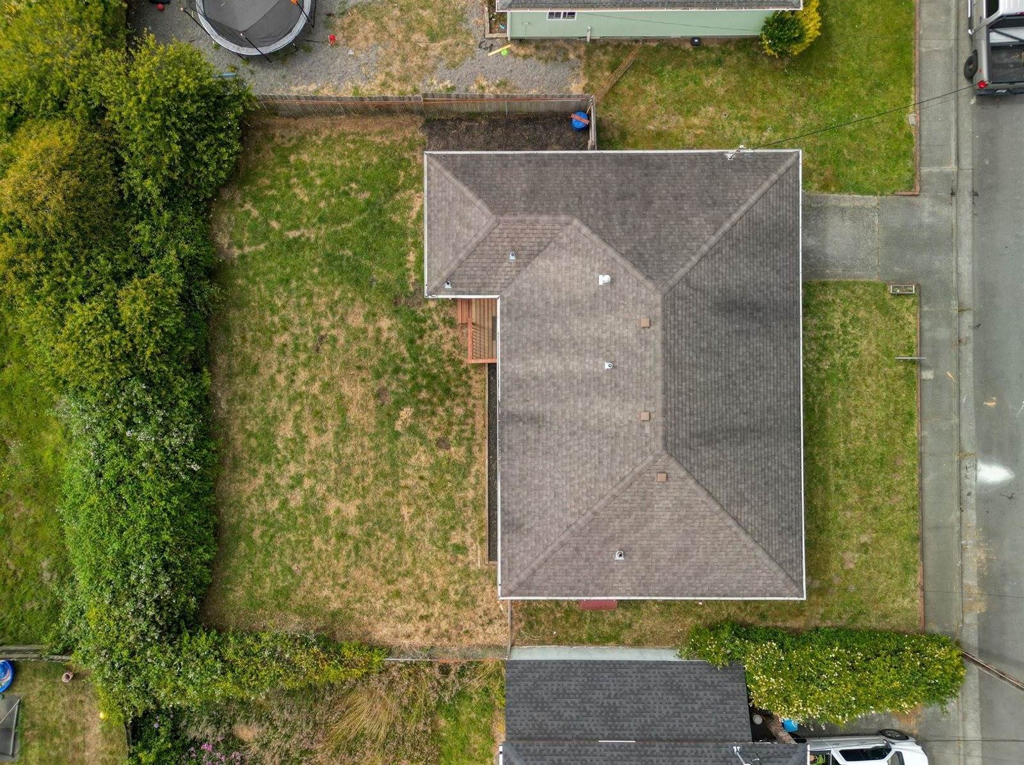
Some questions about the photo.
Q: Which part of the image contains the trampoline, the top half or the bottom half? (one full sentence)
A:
It is in the top half that the trampoline appears.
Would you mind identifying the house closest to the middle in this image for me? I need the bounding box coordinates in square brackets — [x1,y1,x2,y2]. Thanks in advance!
[423,137,806,600]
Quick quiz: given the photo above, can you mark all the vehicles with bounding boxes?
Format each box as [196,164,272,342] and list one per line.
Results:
[804,728,924,765]
[955,0,1024,100]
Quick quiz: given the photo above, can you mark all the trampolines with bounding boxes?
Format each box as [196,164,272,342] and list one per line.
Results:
[179,0,319,66]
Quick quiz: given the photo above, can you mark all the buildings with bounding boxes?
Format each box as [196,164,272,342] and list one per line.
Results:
[497,649,810,765]
[423,137,806,600]
[494,0,804,40]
